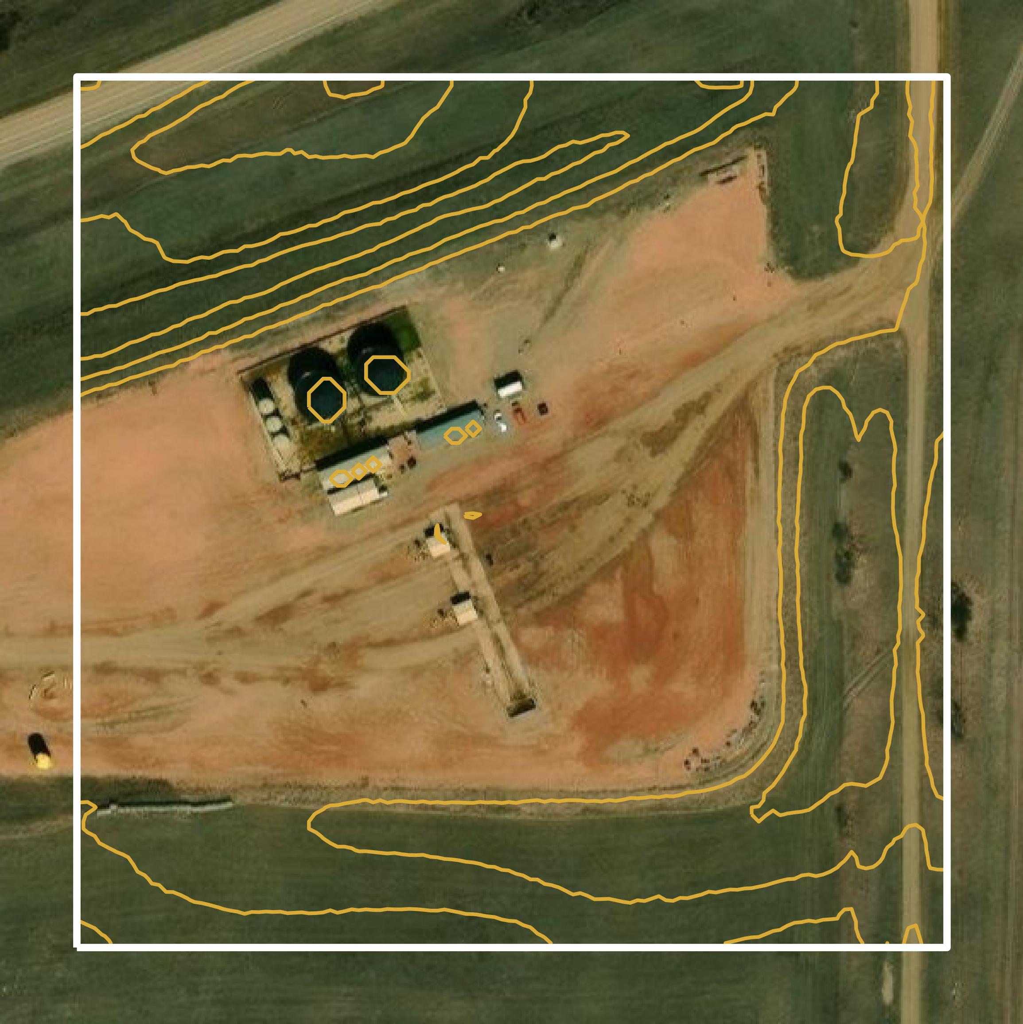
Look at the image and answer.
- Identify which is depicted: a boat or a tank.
tank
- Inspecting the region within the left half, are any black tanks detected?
Yes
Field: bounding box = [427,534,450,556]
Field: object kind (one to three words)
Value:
shed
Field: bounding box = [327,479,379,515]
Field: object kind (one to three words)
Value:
building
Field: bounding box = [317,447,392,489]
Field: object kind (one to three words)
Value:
building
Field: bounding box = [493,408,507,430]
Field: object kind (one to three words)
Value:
vehicle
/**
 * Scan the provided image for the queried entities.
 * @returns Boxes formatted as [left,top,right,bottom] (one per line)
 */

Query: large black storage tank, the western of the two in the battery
[296,372,348,422]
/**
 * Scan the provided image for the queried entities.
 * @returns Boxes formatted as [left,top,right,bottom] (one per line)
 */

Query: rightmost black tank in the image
[355,348,406,396]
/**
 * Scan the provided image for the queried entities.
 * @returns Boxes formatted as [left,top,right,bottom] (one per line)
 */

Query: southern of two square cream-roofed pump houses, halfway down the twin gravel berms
[453,601,477,623]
